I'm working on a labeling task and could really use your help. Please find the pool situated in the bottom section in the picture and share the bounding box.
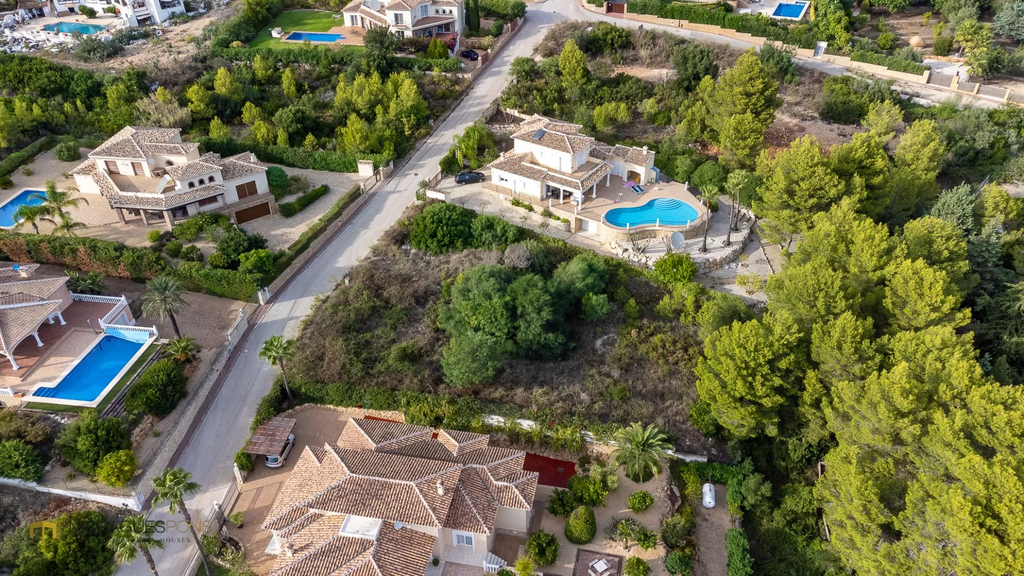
[19,330,152,407]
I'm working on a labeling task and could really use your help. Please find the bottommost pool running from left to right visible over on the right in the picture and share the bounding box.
[603,196,701,229]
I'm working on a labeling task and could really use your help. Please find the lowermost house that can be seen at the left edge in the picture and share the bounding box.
[0,263,78,372]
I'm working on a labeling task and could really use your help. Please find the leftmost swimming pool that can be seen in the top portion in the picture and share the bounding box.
[0,189,48,227]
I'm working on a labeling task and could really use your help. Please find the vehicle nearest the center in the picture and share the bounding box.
[455,173,485,188]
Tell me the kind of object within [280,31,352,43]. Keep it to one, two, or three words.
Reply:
swimming pool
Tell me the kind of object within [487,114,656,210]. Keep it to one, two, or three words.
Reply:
house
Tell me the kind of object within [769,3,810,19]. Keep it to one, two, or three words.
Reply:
swimming pool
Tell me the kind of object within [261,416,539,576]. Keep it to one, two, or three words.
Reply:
house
